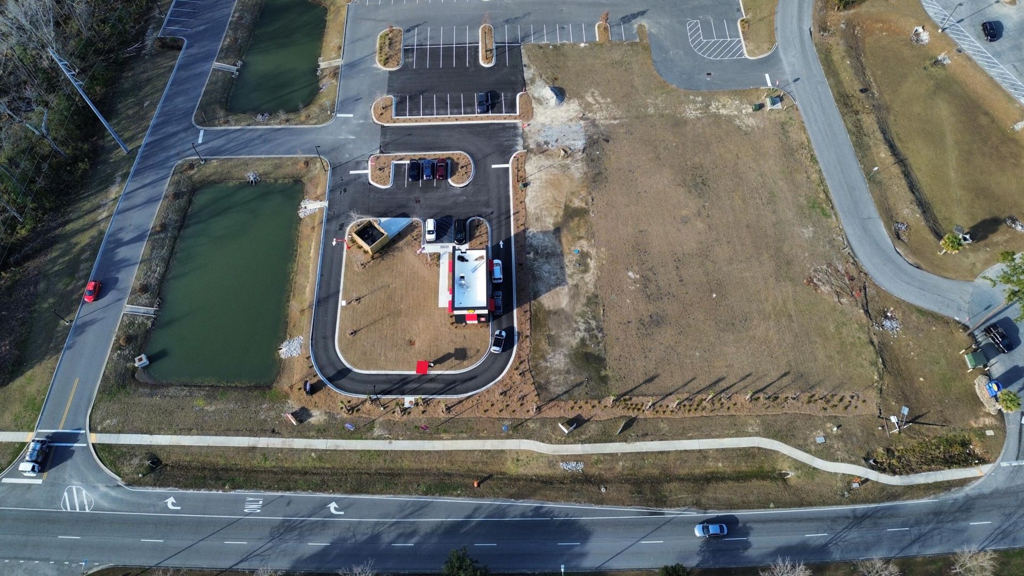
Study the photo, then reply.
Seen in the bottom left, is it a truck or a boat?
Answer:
truck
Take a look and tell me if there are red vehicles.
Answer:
Yes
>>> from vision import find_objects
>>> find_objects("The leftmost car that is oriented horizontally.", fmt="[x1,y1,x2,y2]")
[695,523,730,540]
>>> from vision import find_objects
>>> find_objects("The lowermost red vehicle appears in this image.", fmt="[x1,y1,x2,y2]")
[82,278,102,304]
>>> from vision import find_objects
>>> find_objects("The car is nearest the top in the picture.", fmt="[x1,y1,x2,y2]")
[984,21,1001,40]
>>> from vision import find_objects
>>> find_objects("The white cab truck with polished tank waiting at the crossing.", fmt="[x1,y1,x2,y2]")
[17,430,59,480]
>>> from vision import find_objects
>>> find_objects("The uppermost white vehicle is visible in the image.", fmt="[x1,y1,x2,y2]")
[423,219,436,243]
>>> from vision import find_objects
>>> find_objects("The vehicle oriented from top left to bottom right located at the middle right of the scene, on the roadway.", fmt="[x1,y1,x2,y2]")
[985,321,1018,356]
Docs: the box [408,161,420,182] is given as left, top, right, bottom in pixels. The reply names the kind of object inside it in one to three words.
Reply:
vehicle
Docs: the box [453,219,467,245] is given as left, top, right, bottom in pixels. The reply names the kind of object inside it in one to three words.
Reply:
car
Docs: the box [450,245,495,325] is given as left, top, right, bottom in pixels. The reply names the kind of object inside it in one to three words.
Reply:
building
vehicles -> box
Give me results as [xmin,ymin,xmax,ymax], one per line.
[695,523,730,540]
[453,219,467,245]
[984,21,1001,40]
[985,321,1018,356]
[422,161,433,180]
[82,278,102,304]
[491,329,507,357]
[436,160,447,180]
[423,219,436,243]
[492,262,504,286]
[478,93,489,114]
[408,161,420,182]
[17,430,59,480]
